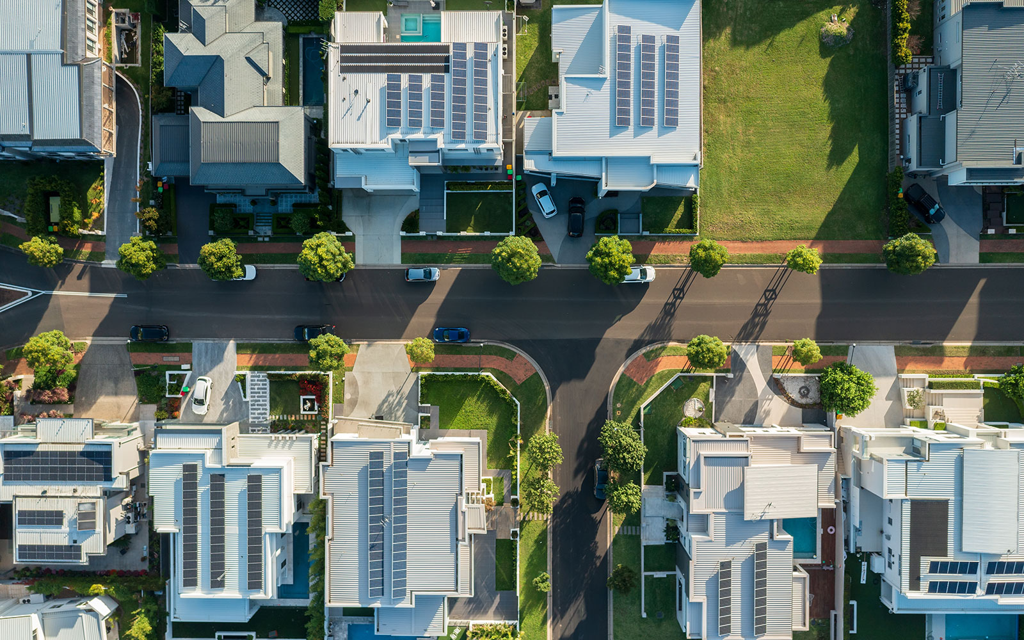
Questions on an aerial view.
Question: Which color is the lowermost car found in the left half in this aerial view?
white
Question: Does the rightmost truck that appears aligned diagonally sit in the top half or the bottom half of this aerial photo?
top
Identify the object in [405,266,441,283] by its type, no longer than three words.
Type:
car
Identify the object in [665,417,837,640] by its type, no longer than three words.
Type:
house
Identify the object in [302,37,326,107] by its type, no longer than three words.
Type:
swimming pool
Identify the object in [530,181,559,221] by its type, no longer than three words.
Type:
car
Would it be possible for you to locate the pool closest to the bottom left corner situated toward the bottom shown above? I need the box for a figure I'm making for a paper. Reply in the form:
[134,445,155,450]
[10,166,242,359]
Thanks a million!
[276,519,311,600]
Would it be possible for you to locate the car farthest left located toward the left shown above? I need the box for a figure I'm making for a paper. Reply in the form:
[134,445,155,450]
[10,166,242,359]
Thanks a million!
[130,325,171,341]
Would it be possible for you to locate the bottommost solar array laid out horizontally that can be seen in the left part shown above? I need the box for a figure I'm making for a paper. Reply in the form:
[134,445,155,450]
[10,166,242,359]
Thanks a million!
[17,544,81,560]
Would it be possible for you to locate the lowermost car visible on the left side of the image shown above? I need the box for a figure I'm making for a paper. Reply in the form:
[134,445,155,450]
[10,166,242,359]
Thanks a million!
[191,375,214,416]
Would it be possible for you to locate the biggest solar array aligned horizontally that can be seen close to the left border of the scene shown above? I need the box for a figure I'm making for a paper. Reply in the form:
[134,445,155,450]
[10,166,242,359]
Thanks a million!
[2,450,112,481]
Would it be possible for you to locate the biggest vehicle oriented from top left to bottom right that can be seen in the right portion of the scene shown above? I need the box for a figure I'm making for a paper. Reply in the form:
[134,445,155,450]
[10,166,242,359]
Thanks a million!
[903,181,948,224]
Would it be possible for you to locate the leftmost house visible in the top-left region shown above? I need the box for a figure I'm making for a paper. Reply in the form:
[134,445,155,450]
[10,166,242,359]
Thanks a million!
[0,0,127,161]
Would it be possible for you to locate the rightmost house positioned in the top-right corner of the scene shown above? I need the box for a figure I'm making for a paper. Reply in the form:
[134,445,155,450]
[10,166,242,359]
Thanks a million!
[900,0,1024,185]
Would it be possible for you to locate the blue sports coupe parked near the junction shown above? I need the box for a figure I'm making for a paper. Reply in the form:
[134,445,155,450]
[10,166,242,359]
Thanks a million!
[433,327,471,344]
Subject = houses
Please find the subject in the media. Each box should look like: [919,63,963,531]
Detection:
[0,416,150,564]
[328,10,512,193]
[665,417,837,640]
[900,0,1024,185]
[0,592,126,640]
[150,414,322,623]
[524,0,702,194]
[841,419,1024,614]
[151,0,315,227]
[0,0,127,161]
[320,416,487,636]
